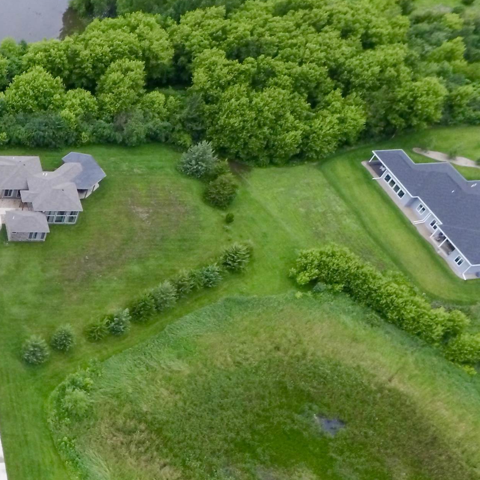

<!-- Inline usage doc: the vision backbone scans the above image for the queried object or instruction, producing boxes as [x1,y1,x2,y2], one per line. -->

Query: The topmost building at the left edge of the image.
[0,152,107,222]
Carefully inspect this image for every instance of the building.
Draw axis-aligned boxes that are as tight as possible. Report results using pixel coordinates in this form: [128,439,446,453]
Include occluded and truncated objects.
[367,149,480,274]
[0,152,107,222]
